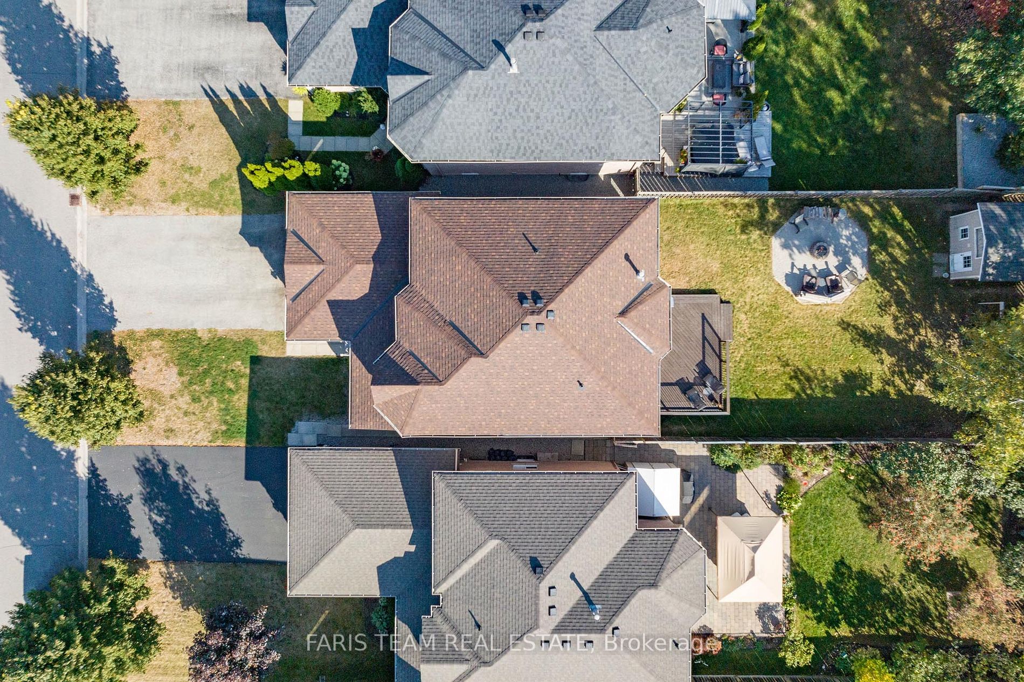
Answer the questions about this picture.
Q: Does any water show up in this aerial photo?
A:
No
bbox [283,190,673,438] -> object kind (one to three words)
house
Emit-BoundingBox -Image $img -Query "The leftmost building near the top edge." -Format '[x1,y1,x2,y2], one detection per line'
[285,0,707,191]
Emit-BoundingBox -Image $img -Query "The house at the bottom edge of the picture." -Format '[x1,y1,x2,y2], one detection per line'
[285,447,707,682]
